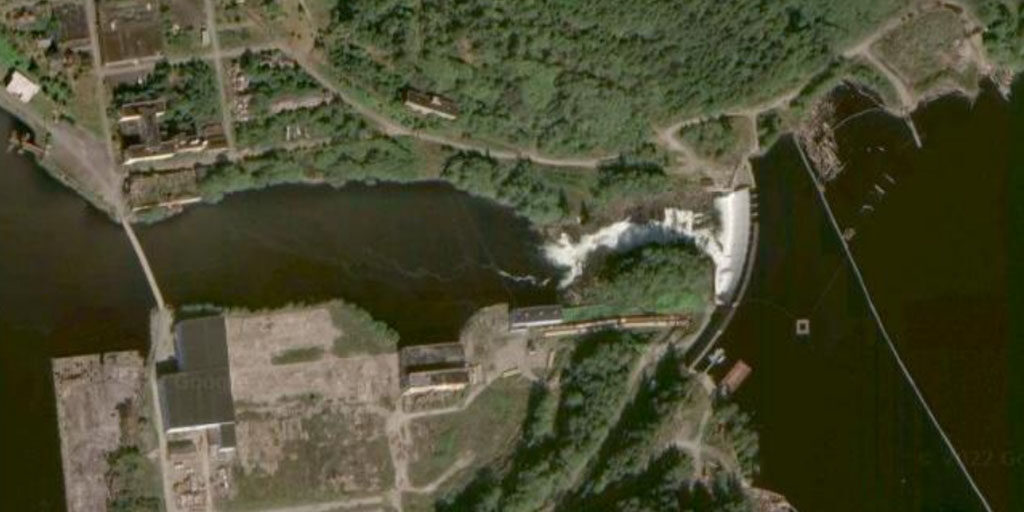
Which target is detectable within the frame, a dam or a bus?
dam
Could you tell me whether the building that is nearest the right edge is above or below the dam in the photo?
below it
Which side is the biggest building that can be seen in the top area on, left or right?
left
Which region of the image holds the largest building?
bottom left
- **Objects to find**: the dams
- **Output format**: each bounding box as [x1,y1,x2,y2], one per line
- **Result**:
[706,157,758,308]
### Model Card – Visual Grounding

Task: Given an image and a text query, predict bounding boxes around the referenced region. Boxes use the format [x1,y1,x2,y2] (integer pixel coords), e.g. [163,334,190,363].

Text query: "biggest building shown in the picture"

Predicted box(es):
[163,315,235,451]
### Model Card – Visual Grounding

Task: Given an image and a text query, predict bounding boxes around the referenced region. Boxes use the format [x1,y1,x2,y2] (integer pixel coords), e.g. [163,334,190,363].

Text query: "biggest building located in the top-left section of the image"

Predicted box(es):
[120,99,229,163]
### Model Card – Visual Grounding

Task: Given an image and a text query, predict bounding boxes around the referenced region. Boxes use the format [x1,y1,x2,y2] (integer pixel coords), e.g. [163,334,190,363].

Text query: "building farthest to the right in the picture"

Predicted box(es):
[720,360,752,395]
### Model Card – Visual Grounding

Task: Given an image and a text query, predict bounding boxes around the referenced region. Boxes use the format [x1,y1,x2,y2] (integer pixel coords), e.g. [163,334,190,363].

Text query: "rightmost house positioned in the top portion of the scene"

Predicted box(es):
[401,90,458,119]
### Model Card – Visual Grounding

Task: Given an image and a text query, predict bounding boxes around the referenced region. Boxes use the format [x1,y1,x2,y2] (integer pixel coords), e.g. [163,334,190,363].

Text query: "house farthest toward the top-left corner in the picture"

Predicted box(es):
[15,14,37,32]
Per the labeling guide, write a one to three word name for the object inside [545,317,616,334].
shed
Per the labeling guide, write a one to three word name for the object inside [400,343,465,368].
building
